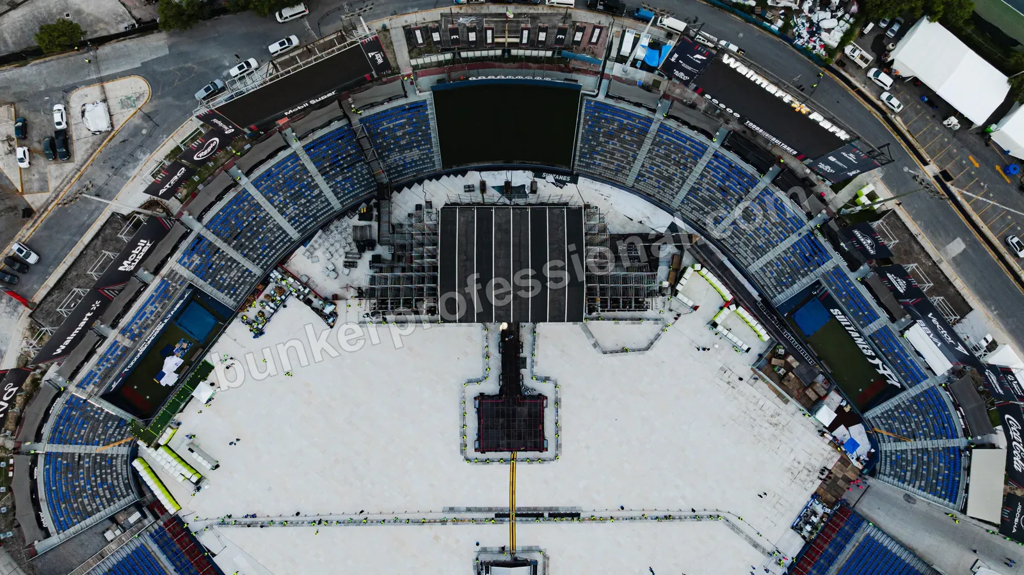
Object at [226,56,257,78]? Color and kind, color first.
white car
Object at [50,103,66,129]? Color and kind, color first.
white car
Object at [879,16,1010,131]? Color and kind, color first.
white tent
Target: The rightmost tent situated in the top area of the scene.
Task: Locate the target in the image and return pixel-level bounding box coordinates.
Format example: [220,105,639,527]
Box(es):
[976,101,1024,158]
